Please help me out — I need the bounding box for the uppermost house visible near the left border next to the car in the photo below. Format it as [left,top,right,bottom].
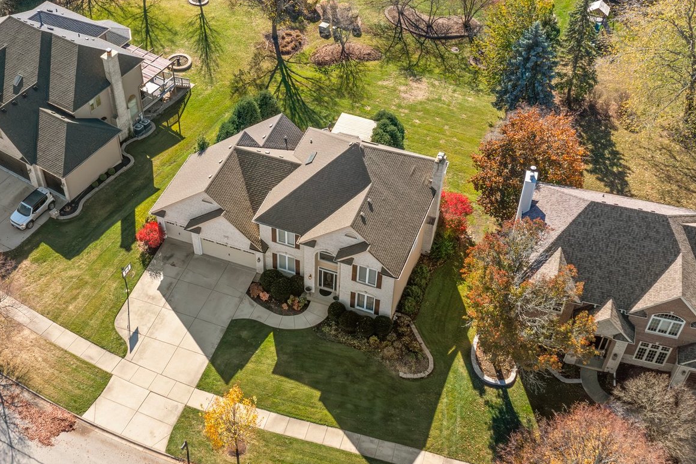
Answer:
[0,3,145,201]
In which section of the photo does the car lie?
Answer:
left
